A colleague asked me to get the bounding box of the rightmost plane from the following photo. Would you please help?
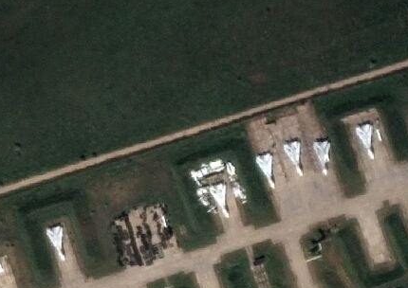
[357,123,374,159]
